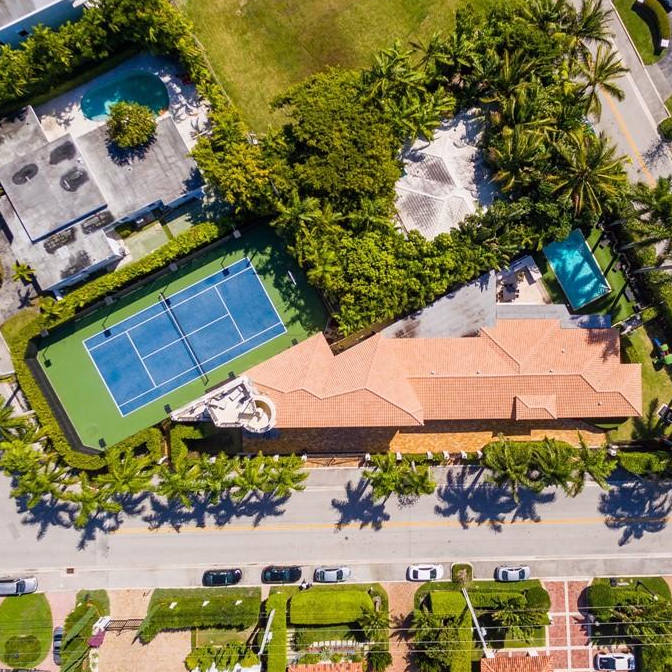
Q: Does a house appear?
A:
Yes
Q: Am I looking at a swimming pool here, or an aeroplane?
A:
swimming pool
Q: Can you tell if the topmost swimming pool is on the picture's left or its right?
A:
left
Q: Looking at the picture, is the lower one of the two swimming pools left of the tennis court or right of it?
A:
right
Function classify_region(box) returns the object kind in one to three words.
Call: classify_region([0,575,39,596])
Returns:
car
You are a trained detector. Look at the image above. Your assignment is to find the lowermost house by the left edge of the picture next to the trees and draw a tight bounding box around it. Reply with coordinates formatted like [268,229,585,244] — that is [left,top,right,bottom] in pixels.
[0,107,205,290]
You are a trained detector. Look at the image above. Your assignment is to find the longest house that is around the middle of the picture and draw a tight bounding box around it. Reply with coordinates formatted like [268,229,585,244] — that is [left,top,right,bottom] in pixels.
[170,271,643,428]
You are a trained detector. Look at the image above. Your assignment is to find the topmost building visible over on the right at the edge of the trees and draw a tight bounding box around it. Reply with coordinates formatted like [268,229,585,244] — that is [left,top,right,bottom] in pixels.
[395,117,481,243]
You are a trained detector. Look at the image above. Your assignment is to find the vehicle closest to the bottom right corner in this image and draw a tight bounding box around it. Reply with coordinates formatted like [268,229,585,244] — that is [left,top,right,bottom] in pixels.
[595,651,636,672]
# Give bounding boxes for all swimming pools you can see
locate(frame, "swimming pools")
[543,227,614,313]
[79,68,172,125]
